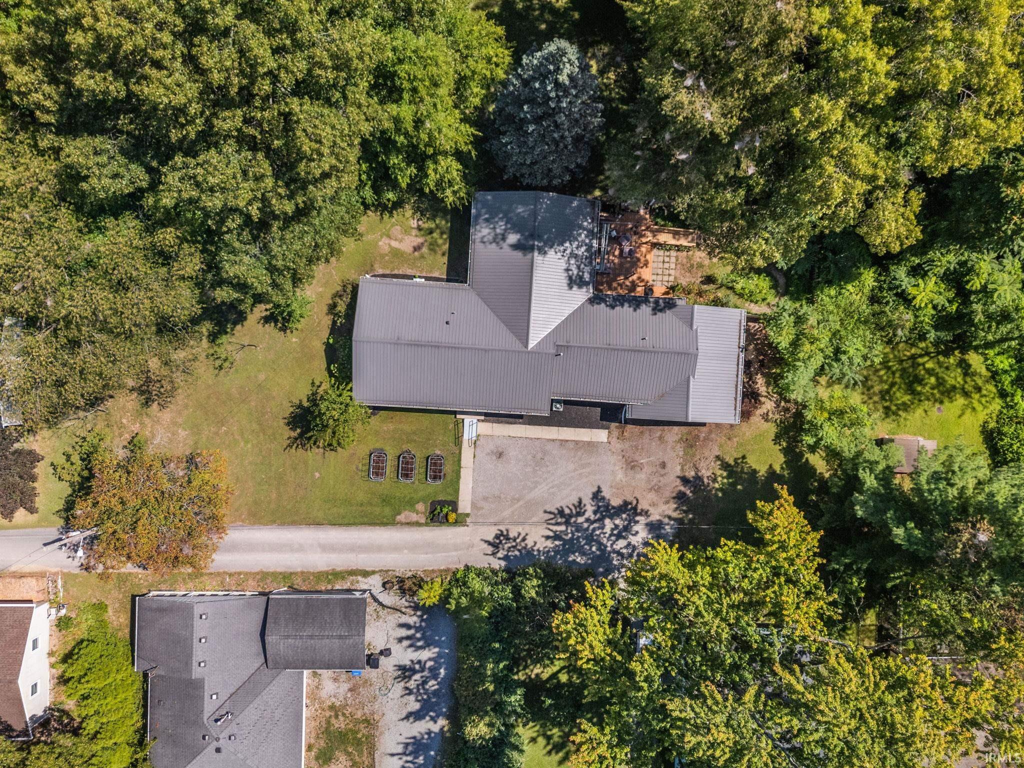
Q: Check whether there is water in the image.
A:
No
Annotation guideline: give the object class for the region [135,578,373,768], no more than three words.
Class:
house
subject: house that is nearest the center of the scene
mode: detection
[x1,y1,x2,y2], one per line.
[352,191,748,425]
